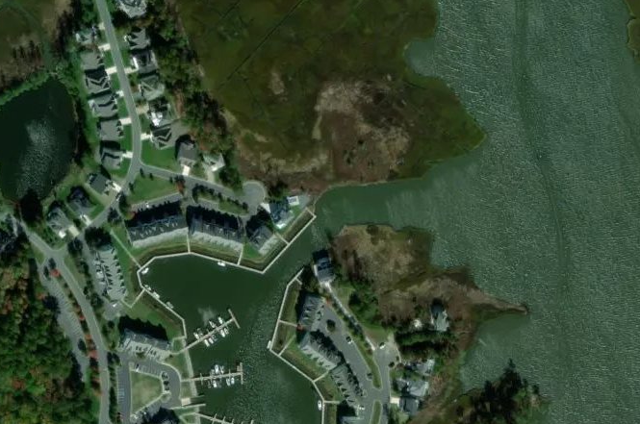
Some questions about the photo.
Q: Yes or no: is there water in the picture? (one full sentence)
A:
Yes, water can be seen from above here.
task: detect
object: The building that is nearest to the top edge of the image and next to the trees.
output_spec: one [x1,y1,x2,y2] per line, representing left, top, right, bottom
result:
[115,0,148,17]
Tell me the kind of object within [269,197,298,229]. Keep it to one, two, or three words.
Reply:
house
